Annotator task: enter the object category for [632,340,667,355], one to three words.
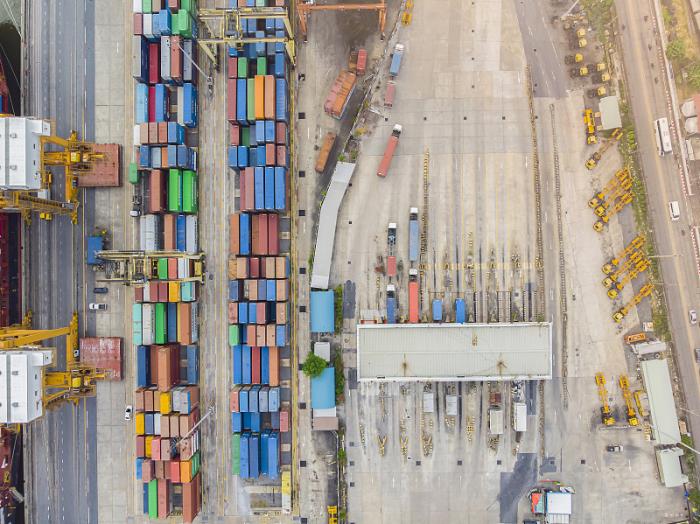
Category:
shed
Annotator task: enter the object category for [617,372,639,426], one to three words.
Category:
work vehicle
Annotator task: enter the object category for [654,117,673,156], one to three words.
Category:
vehicle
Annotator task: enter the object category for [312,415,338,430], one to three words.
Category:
shed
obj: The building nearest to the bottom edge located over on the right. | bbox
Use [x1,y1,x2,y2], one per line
[654,445,688,488]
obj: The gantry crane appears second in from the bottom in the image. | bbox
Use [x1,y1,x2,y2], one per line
[96,247,205,290]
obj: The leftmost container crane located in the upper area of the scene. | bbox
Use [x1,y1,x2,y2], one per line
[0,108,119,223]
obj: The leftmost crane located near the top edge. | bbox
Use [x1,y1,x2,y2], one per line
[198,4,296,70]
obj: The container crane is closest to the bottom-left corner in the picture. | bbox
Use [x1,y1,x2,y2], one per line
[0,316,119,430]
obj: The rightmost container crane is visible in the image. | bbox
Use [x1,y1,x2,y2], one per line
[292,0,390,43]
